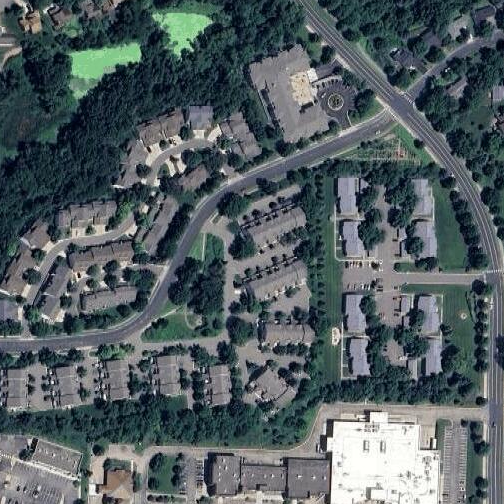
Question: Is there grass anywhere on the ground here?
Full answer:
Yes, the picture does contain grass.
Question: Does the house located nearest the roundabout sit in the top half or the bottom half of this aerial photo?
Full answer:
The top half of the photo is where the house located nearest the roundabout is.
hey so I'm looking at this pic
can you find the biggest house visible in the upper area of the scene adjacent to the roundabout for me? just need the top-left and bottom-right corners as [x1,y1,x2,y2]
[250,44,329,148]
